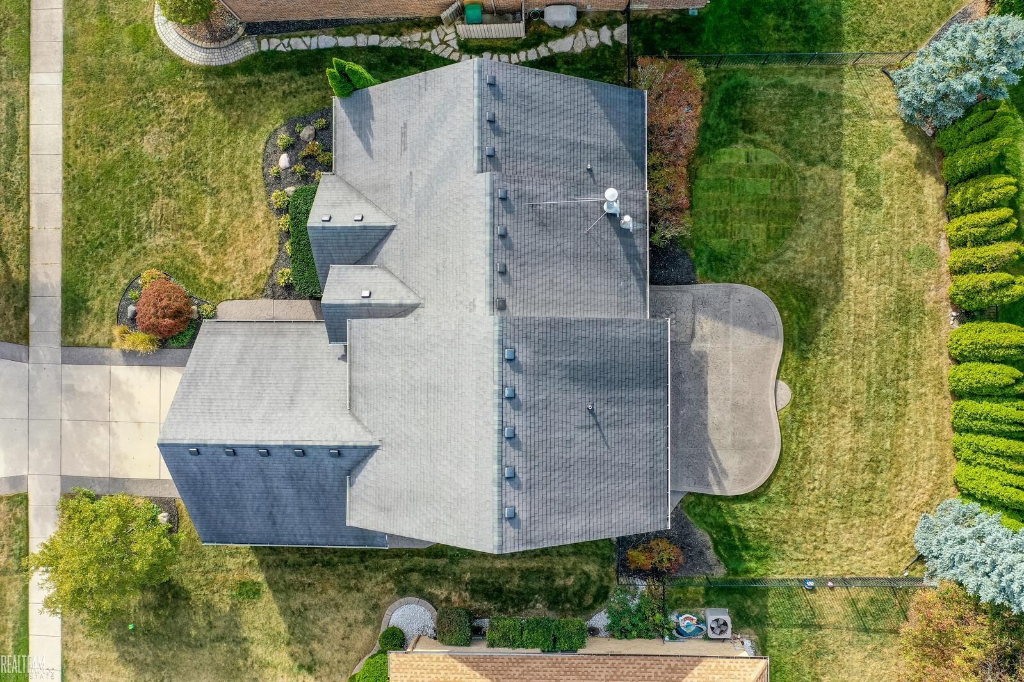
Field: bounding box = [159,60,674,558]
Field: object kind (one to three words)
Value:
house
